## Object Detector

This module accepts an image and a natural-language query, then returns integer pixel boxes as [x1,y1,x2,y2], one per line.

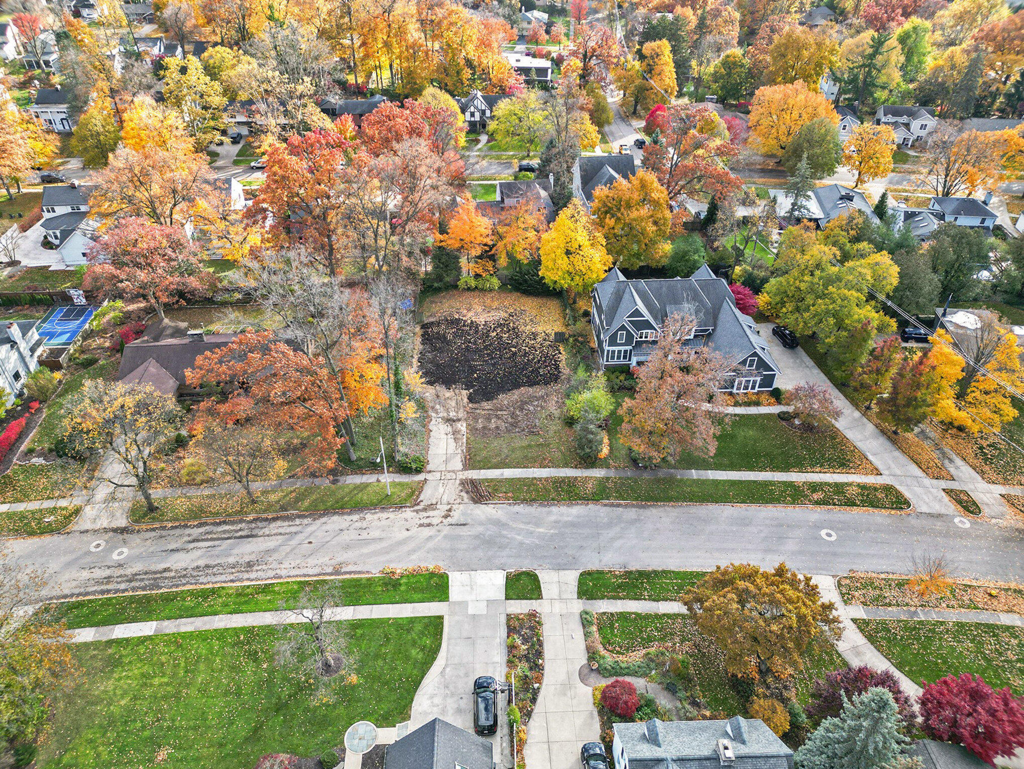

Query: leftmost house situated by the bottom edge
[394,715,497,769]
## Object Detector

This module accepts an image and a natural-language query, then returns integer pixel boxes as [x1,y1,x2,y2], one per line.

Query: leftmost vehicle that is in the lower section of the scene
[470,676,501,737]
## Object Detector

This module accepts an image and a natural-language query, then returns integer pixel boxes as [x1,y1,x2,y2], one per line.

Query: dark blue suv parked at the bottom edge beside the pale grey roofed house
[582,738,614,769]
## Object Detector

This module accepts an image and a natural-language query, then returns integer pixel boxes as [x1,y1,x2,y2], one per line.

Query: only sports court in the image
[42,303,100,351]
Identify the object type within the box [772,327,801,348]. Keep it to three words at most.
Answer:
car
